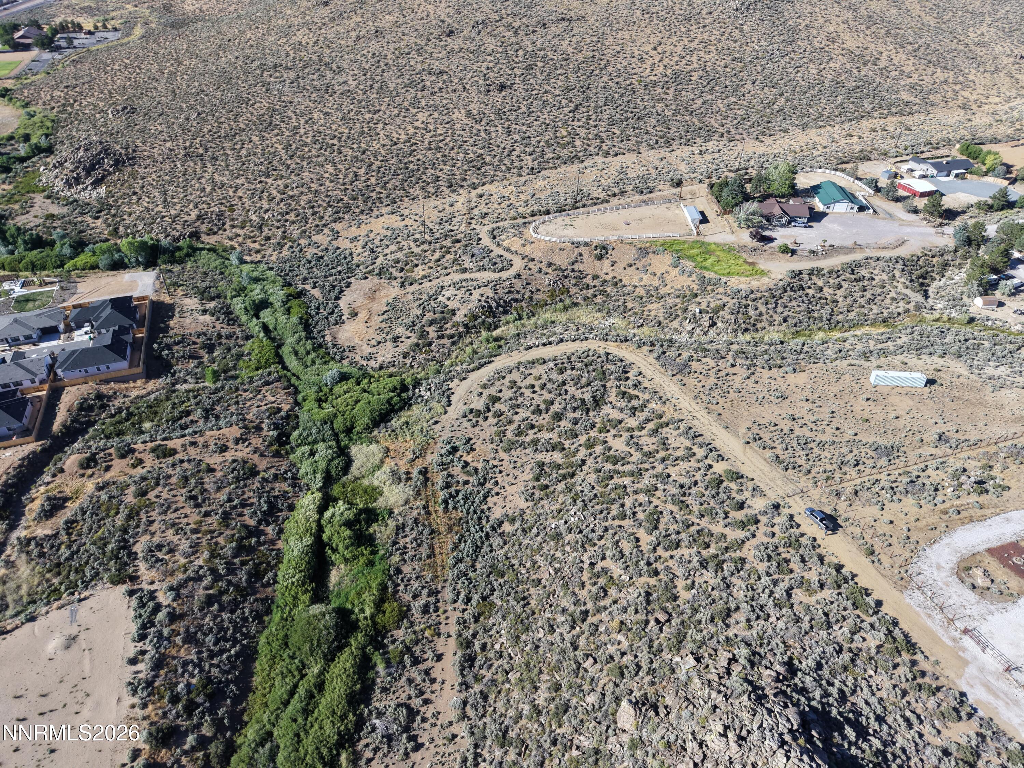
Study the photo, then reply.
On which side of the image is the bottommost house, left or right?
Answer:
left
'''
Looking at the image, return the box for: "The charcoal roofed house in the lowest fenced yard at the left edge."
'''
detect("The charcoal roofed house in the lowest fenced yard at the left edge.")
[0,388,32,438]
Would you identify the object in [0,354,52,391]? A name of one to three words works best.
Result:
house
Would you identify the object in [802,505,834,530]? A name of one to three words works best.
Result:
truck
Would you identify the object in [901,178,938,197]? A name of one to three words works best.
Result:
barn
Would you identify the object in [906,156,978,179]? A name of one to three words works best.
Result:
house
